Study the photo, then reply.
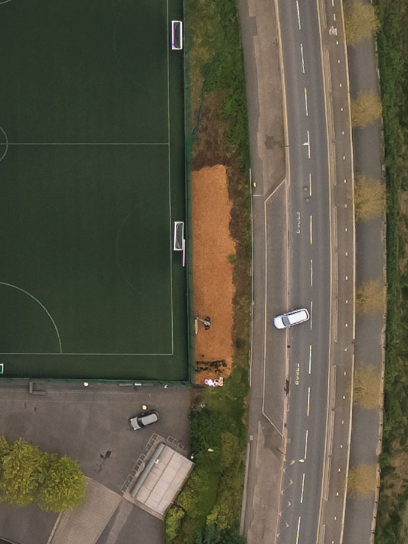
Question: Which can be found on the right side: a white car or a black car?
white car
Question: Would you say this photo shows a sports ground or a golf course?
sports ground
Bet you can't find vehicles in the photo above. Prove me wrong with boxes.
[128,410,160,431]
[274,308,311,330]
